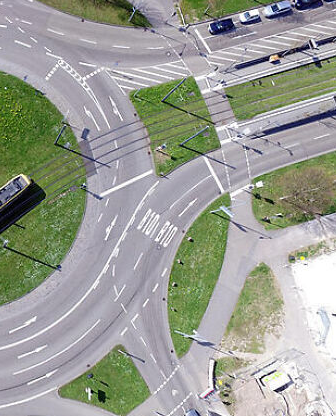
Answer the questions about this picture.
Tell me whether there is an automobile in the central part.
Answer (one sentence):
No, I can find no automobile in the central part.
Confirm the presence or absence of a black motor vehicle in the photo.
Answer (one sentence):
Yes, the image includes a black motor vehicle.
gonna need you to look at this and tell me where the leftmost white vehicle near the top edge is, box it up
[236,8,263,26]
